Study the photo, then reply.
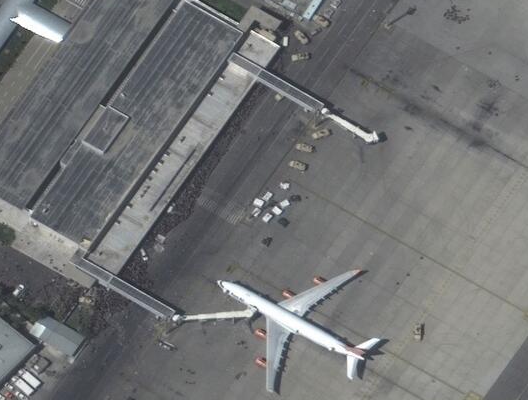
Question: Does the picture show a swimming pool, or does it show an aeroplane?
aeroplane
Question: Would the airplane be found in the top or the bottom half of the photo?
bottom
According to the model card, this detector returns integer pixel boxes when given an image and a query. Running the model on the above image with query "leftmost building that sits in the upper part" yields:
[0,0,258,277]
